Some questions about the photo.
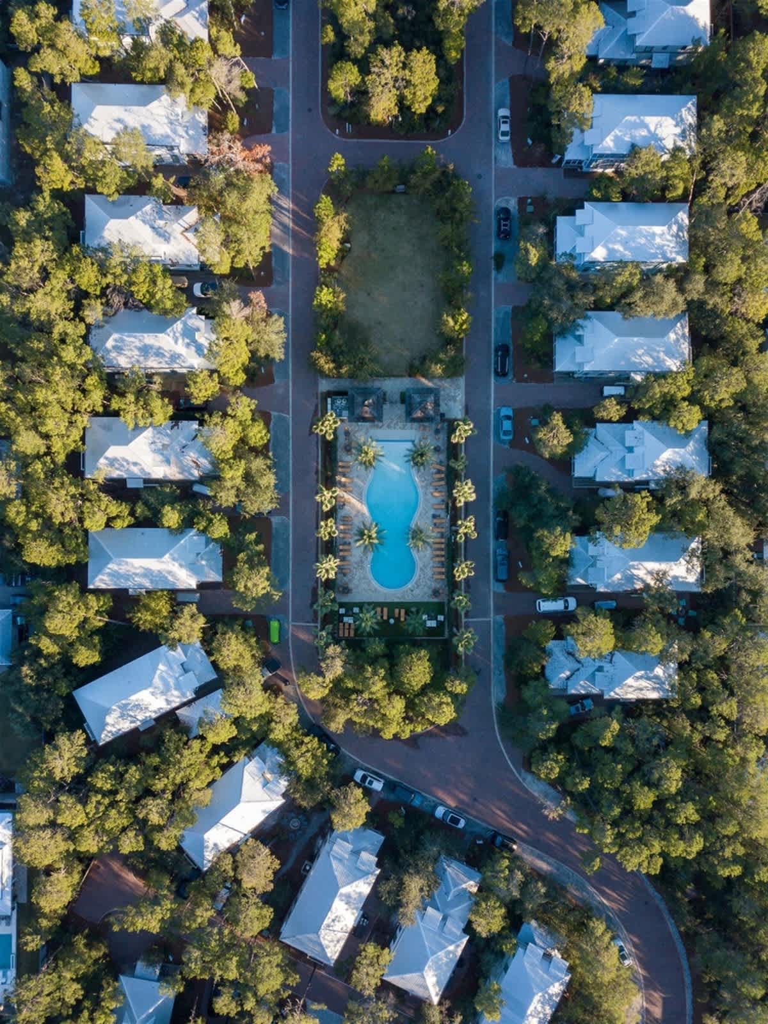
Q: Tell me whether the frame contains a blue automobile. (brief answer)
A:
Yes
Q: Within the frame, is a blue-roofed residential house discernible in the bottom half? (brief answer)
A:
Yes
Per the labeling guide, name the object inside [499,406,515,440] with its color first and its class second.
blue car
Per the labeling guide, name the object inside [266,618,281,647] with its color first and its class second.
green car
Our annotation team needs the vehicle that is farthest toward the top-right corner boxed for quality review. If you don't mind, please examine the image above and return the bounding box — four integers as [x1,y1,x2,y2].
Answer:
[497,106,513,140]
